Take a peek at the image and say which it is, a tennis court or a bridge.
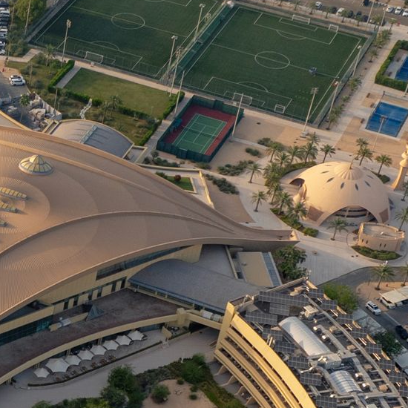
tennis court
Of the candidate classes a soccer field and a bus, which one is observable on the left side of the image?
soccer field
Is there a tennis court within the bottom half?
No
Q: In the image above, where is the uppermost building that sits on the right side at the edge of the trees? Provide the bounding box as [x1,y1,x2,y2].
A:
[298,155,395,220]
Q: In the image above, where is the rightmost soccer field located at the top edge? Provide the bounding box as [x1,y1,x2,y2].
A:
[183,3,370,124]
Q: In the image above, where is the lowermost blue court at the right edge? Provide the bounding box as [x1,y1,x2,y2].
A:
[363,100,408,138]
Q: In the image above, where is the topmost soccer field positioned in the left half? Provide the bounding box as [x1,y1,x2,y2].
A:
[27,0,224,81]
